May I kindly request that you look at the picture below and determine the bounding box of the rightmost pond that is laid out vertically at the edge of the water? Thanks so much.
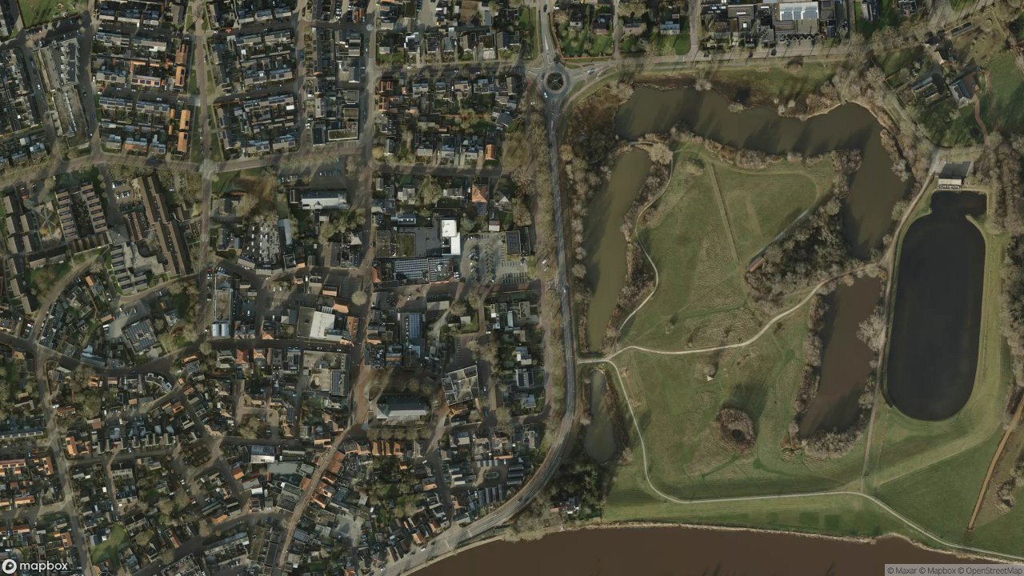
[801,277,882,437]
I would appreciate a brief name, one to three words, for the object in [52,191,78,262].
building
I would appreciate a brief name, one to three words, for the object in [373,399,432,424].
building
